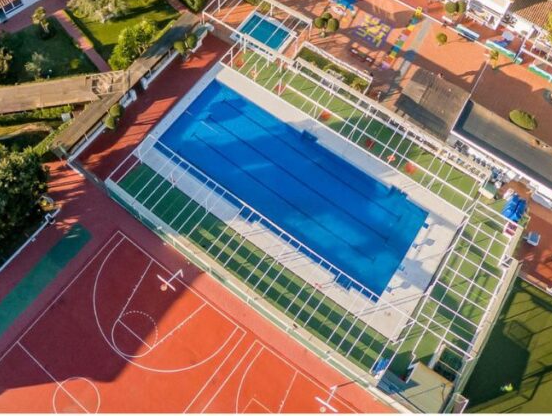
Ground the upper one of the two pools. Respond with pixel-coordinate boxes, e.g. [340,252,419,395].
[231,10,298,59]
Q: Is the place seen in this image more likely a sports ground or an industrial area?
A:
sports ground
